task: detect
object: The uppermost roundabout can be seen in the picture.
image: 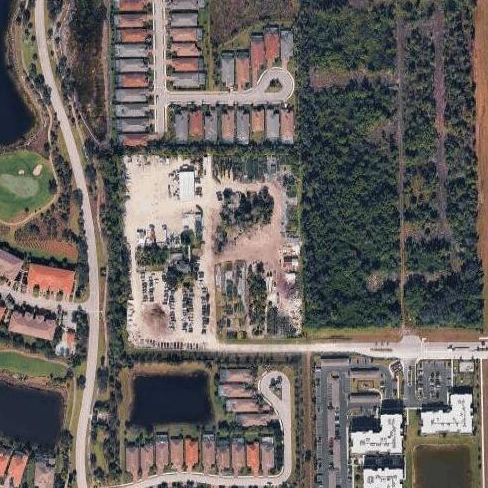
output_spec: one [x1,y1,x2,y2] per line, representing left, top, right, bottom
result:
[239,68,294,102]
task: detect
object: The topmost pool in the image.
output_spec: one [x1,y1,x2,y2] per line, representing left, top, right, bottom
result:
[55,340,70,357]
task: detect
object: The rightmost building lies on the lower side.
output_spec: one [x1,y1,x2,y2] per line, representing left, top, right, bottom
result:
[421,394,474,434]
